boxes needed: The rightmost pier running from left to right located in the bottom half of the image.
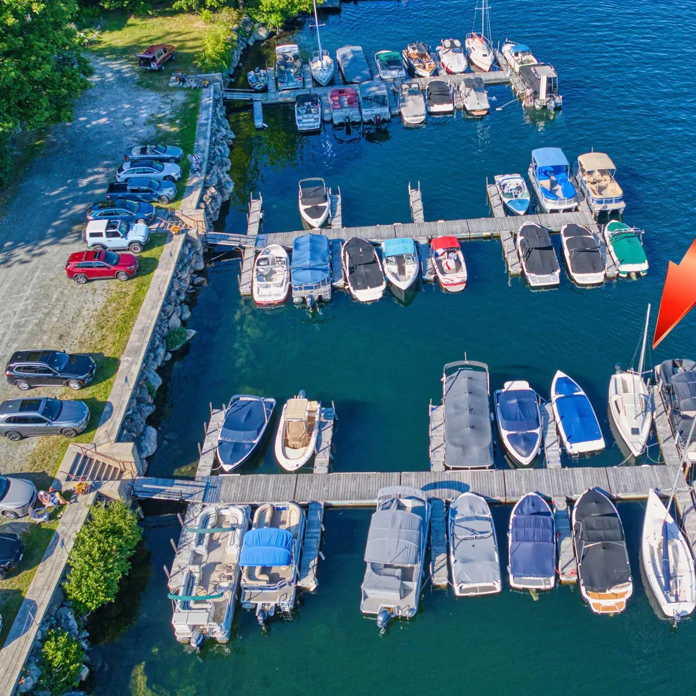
[201,468,685,510]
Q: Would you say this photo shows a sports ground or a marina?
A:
marina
